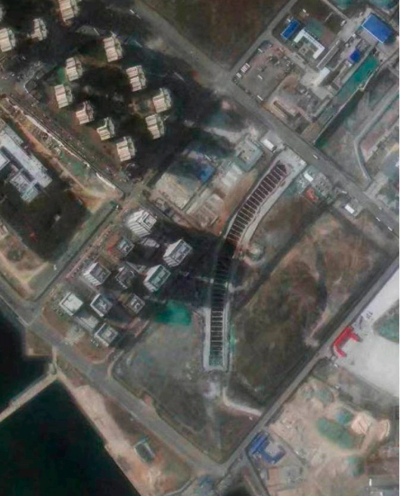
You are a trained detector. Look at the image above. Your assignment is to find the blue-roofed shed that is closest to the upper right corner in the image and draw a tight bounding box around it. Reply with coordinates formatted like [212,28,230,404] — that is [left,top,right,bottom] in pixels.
[362,13,393,42]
